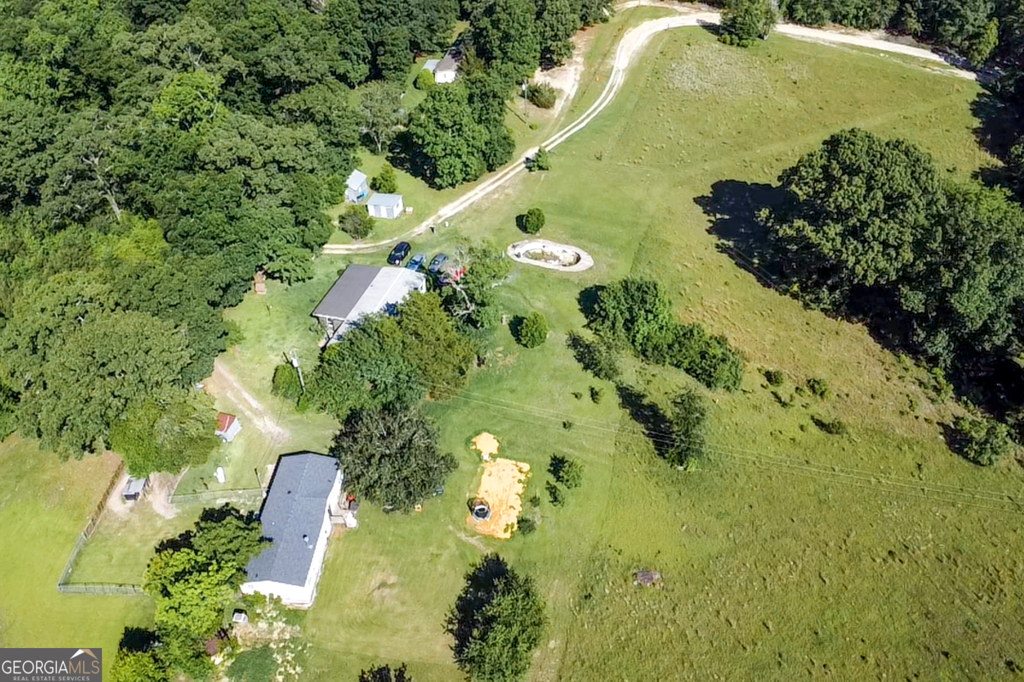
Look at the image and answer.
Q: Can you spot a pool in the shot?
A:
Yes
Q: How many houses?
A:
3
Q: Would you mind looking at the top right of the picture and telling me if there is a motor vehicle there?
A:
No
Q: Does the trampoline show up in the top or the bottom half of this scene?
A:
bottom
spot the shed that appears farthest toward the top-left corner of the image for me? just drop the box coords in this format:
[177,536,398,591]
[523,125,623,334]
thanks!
[346,169,369,202]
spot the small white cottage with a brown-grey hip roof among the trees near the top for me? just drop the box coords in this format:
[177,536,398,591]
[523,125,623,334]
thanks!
[426,49,466,87]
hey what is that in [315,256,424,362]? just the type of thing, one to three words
house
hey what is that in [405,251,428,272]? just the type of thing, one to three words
car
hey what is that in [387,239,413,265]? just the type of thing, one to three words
car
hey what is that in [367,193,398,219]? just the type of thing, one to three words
shed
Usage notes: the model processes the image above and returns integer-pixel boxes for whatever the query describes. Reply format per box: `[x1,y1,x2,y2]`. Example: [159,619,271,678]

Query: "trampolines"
[471,498,492,525]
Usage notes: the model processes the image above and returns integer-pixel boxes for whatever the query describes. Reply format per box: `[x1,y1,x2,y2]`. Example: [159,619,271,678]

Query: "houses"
[242,453,342,609]
[426,49,466,87]
[315,256,424,362]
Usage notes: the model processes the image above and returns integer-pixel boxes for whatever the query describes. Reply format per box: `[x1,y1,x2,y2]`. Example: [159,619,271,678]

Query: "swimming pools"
[509,239,594,272]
